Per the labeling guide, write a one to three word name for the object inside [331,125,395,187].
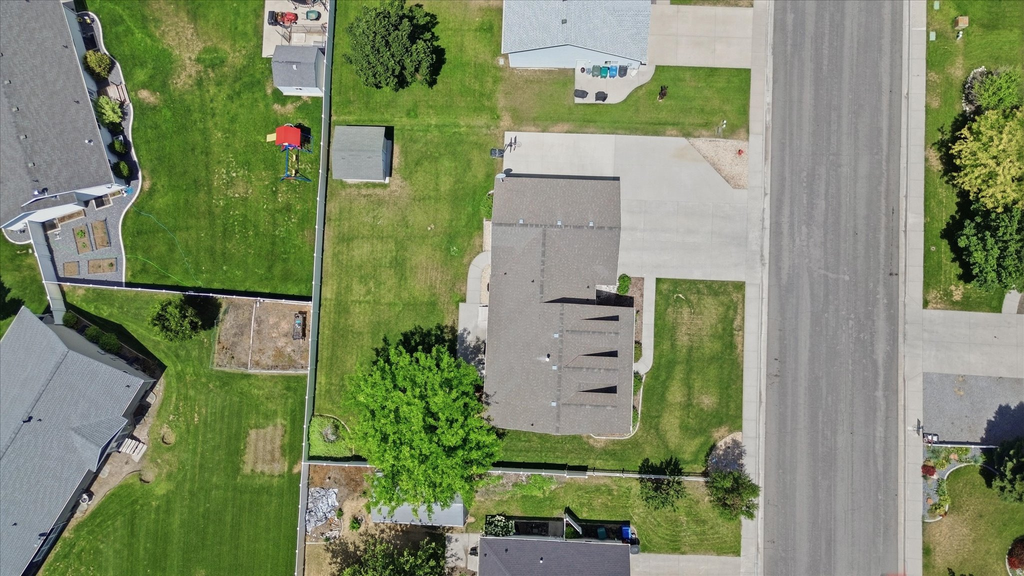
shed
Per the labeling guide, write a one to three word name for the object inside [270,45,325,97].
shed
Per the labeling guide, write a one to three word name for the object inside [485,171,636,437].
house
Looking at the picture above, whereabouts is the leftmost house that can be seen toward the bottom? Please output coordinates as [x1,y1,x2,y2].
[0,302,158,576]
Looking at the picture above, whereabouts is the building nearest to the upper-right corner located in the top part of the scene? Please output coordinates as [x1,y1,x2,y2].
[500,0,662,72]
